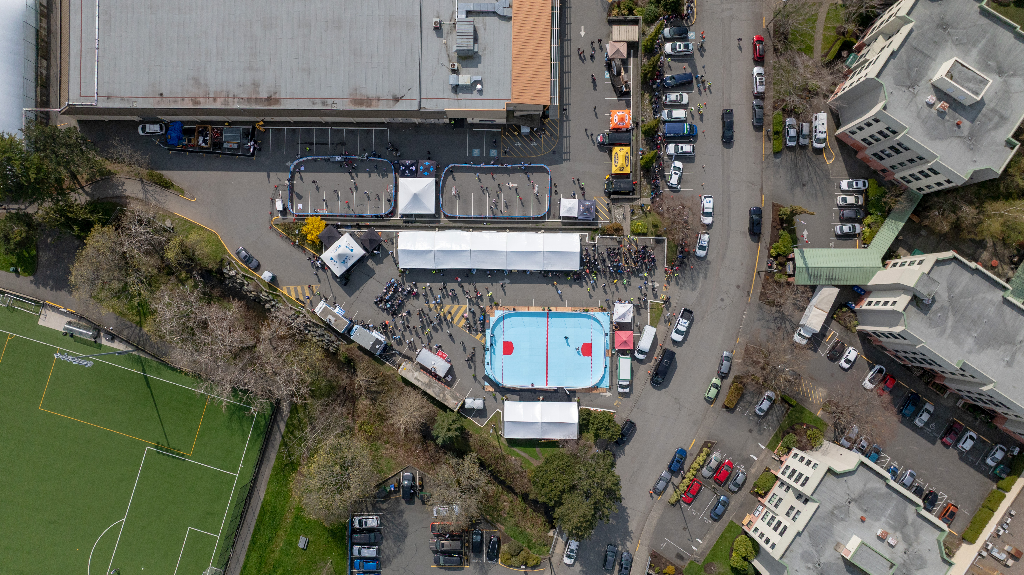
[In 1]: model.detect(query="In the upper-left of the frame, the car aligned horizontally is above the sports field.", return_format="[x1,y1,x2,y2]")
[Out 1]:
[138,122,166,136]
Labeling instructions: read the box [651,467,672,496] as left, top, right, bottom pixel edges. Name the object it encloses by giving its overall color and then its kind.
gray car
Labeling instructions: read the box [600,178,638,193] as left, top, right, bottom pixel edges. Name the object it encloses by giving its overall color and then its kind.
black vehicle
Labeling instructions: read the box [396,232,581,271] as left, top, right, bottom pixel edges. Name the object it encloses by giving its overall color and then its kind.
white tent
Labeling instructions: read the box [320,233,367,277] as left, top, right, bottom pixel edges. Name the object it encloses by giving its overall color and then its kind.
white tent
